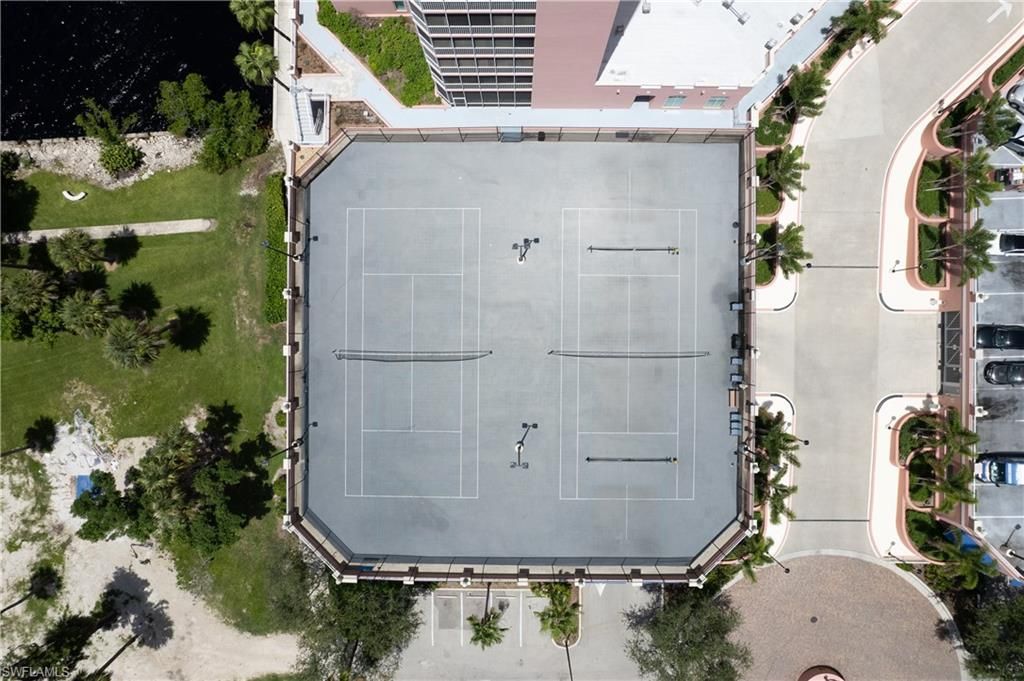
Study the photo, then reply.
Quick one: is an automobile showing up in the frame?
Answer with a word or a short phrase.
Yes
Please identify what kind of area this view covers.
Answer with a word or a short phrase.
sports ground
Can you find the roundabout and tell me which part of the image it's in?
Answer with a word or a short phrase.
bottom right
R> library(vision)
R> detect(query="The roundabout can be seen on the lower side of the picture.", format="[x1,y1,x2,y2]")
[695,548,974,681]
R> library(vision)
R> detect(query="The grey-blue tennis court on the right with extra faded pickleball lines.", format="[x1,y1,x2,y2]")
[520,141,739,564]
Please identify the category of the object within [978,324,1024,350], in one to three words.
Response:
car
